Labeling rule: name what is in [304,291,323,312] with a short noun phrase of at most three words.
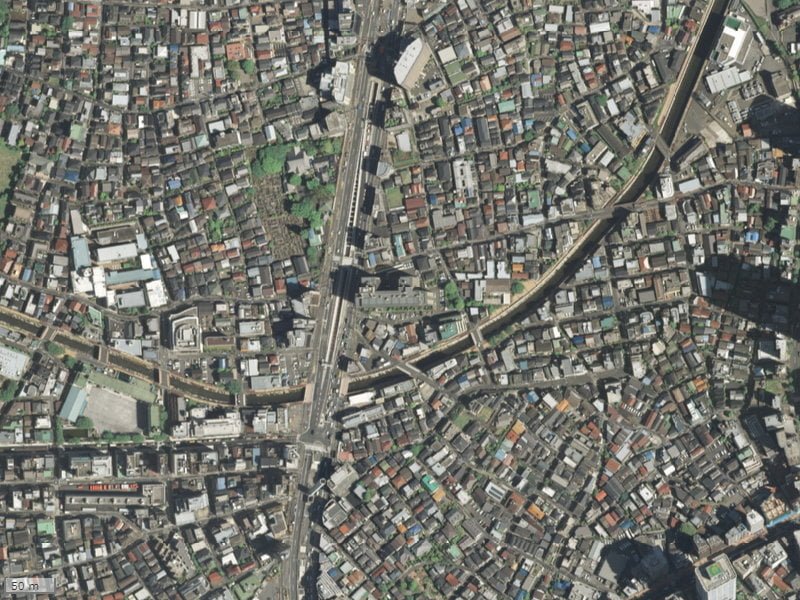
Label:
building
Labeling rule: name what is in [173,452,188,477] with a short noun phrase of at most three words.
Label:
building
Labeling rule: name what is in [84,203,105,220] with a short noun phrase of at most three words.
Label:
house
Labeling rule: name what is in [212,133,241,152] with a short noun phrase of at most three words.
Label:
house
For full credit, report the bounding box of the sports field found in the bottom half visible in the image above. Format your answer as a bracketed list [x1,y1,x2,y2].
[86,384,151,435]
